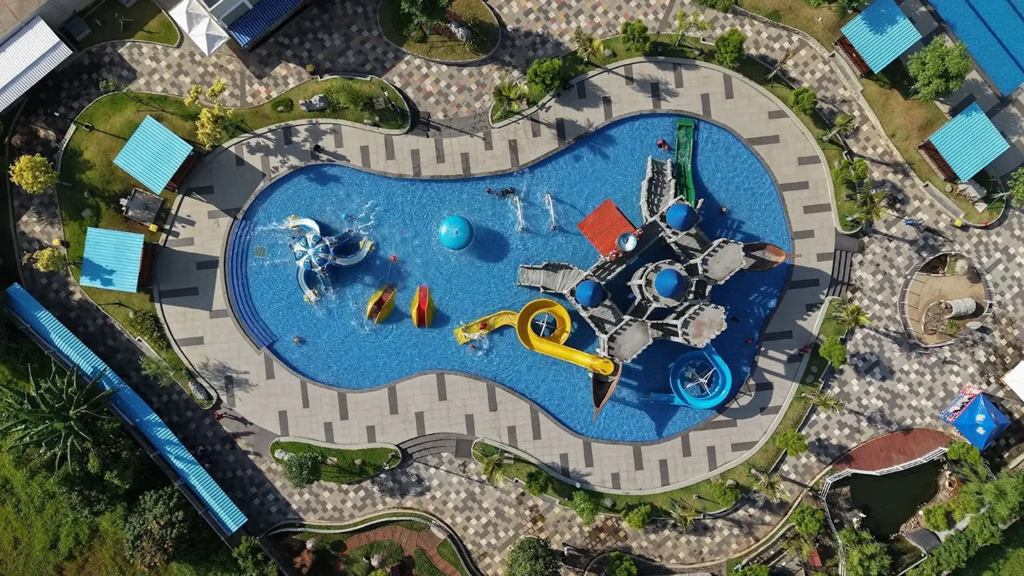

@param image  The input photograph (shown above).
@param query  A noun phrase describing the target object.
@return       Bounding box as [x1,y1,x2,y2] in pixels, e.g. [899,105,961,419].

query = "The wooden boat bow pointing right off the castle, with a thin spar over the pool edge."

[744,242,802,271]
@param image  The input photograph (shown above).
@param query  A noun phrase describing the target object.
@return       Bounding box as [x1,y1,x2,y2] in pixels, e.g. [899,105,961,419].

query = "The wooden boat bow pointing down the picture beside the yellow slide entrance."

[591,362,622,422]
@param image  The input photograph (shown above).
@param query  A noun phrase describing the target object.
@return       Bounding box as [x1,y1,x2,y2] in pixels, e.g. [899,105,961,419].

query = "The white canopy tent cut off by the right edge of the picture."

[967,349,1024,408]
